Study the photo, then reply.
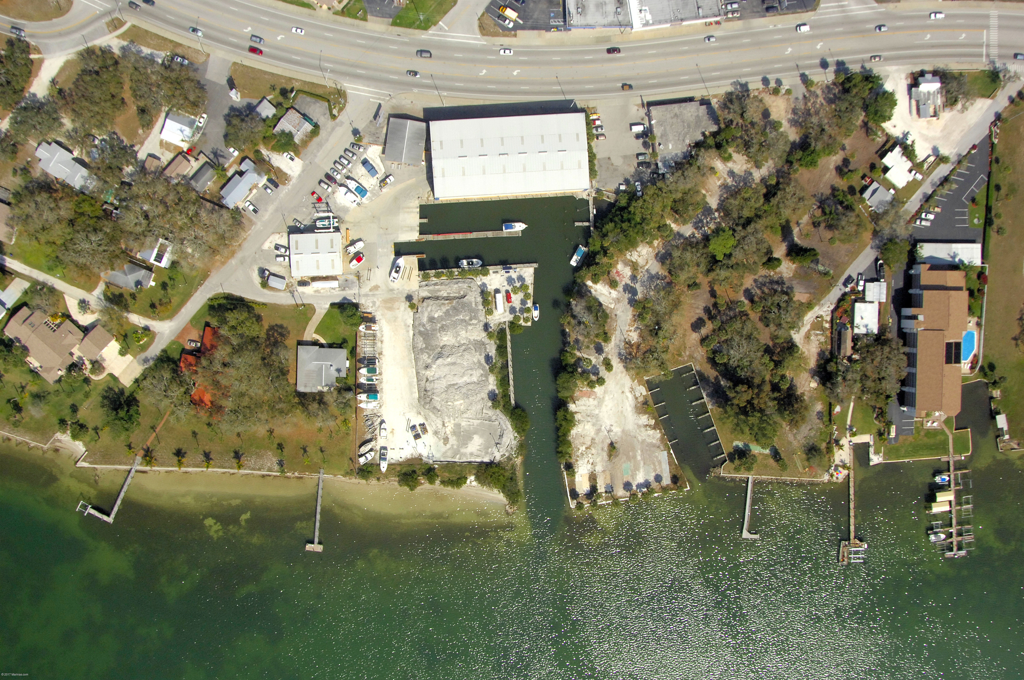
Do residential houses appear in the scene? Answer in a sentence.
Yes, this view includes a residential house.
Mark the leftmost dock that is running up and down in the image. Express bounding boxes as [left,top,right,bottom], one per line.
[306,469,324,552]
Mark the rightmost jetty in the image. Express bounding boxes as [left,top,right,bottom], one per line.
[926,422,974,557]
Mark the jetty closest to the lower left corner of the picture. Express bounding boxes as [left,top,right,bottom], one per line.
[87,456,142,523]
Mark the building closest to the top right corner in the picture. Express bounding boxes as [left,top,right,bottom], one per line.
[909,73,942,119]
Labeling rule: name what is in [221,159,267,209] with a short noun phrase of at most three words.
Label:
house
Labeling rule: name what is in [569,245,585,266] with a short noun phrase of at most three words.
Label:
boat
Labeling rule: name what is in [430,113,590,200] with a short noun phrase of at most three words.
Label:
building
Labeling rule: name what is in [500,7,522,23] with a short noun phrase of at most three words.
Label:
vehicle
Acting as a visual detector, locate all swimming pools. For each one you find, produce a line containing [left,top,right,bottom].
[965,329,977,362]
